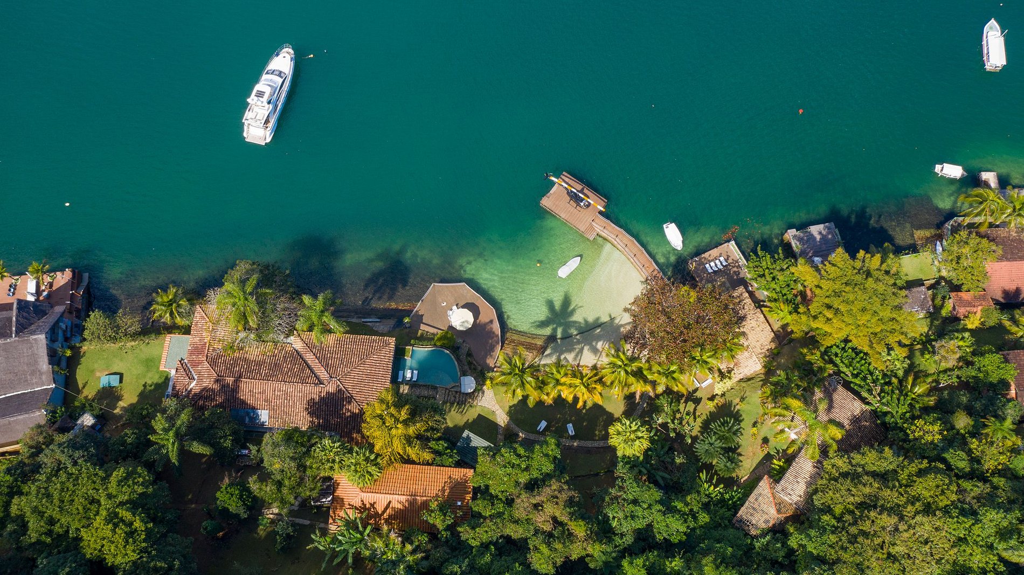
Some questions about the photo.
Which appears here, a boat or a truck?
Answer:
boat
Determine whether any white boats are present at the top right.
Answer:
Yes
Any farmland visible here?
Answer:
No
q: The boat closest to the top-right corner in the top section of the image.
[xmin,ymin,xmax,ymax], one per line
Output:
[982,18,1015,74]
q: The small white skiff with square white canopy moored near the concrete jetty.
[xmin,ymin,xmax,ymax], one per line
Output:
[932,163,970,179]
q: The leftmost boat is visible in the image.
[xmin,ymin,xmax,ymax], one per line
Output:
[242,44,293,145]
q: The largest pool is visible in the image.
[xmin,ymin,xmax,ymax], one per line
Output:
[392,343,465,387]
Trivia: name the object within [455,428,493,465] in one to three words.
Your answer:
shed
